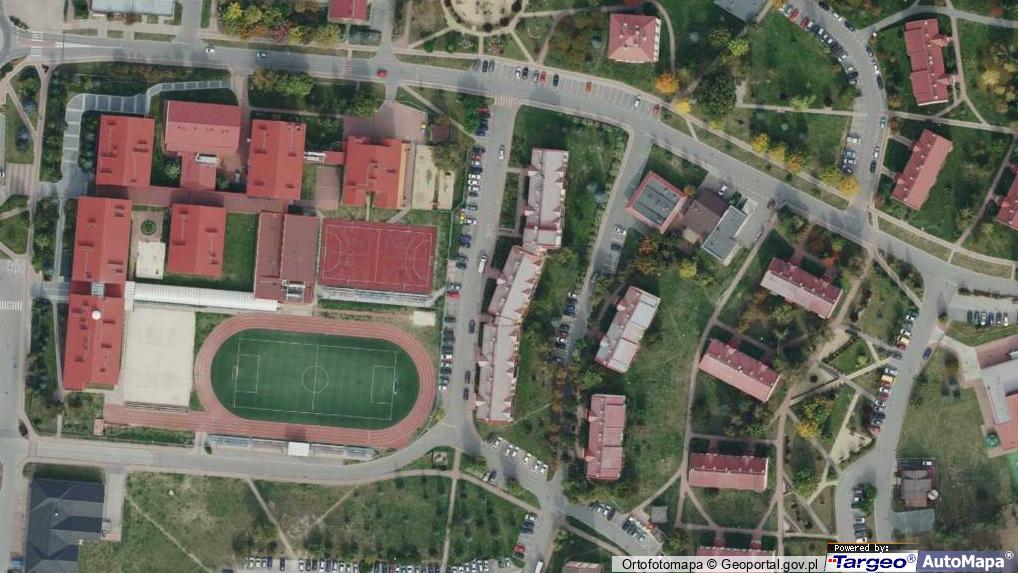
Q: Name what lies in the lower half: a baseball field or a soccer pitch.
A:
soccer pitch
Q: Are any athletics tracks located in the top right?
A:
No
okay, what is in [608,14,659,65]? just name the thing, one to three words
house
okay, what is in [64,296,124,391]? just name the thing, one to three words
building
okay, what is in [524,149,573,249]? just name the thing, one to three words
building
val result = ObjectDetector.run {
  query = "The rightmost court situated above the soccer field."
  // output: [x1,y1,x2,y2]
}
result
[319,219,436,293]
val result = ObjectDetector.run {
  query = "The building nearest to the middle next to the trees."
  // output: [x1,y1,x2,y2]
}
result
[486,245,548,324]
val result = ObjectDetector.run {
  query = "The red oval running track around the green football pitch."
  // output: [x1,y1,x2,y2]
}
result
[103,314,437,447]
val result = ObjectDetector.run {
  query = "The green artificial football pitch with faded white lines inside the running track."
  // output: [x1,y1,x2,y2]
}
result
[210,330,421,431]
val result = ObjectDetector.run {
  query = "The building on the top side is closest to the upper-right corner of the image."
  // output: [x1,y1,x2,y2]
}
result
[905,18,952,105]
